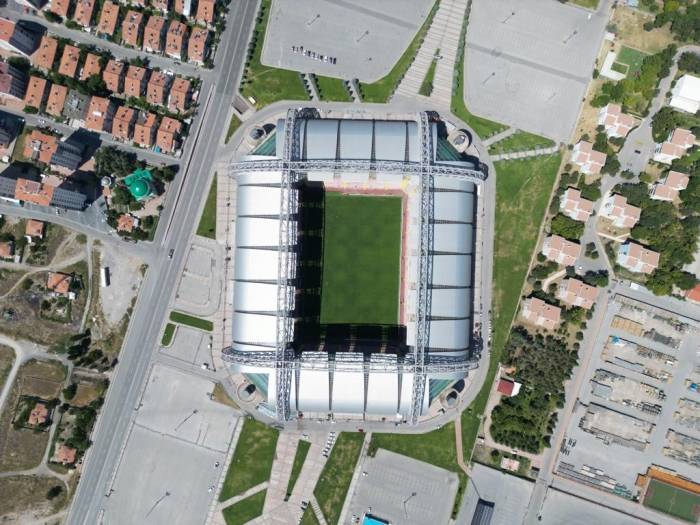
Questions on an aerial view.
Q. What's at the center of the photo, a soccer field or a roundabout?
soccer field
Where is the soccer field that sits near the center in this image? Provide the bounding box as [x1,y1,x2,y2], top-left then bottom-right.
[293,183,411,348]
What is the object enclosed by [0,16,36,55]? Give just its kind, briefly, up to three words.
building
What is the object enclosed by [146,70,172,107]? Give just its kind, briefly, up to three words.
house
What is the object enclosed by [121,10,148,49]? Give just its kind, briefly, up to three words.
house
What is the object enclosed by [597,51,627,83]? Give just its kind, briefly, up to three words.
building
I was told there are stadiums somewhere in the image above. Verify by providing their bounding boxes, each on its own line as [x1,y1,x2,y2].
[223,110,485,421]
